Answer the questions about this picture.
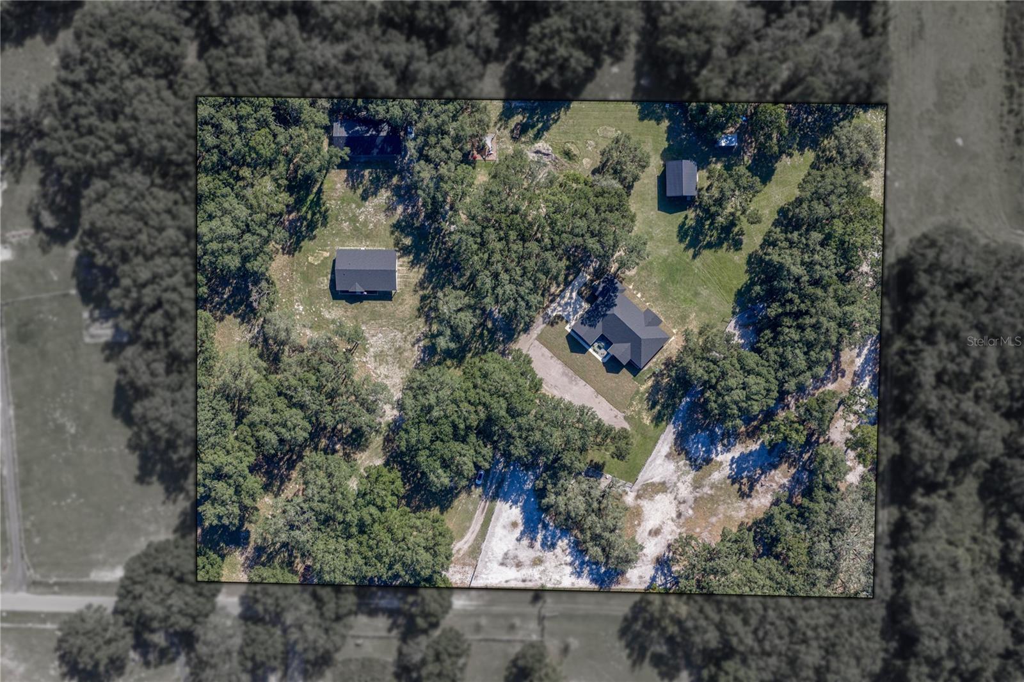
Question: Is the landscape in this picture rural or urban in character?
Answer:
rural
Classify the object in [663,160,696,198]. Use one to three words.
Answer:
shed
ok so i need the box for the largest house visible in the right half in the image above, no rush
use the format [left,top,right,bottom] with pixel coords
[571,281,668,368]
